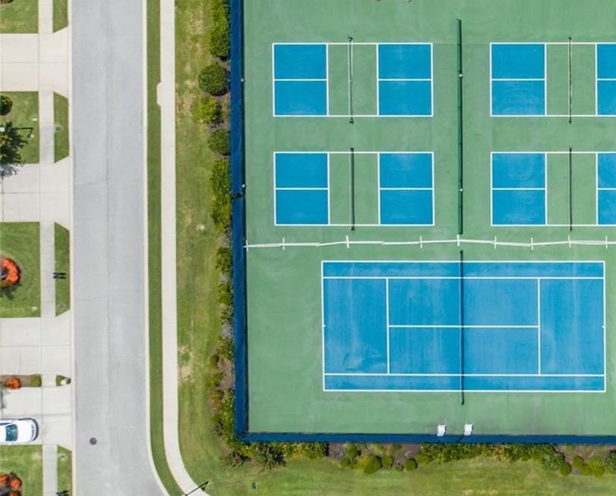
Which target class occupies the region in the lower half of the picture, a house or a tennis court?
tennis court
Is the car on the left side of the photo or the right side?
left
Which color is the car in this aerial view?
white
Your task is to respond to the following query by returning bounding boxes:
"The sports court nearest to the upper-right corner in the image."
[490,38,616,121]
